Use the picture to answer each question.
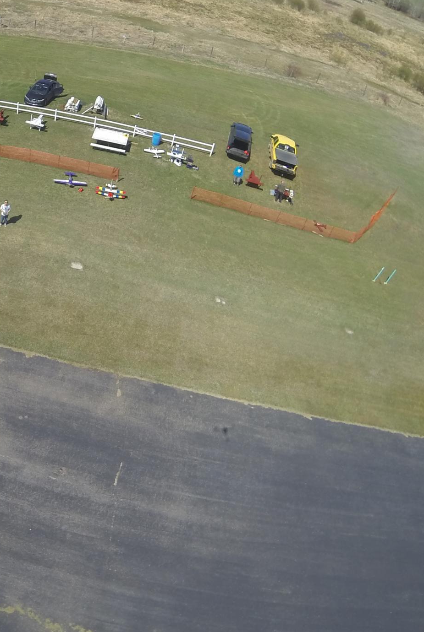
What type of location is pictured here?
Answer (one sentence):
This looks like an airport.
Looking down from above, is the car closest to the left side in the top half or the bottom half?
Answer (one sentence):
It is in the top half that the car closest to the left side appears.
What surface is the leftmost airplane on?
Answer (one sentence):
The leftmost airplane is on the grass.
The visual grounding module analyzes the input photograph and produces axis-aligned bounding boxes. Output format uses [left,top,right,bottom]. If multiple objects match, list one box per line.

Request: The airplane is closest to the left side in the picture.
[55,167,88,188]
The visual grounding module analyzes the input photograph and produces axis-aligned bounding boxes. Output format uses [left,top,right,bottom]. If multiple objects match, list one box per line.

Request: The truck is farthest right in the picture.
[266,136,297,176]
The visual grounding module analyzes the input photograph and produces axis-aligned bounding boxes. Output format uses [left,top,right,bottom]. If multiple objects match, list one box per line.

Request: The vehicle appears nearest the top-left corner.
[25,72,63,107]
